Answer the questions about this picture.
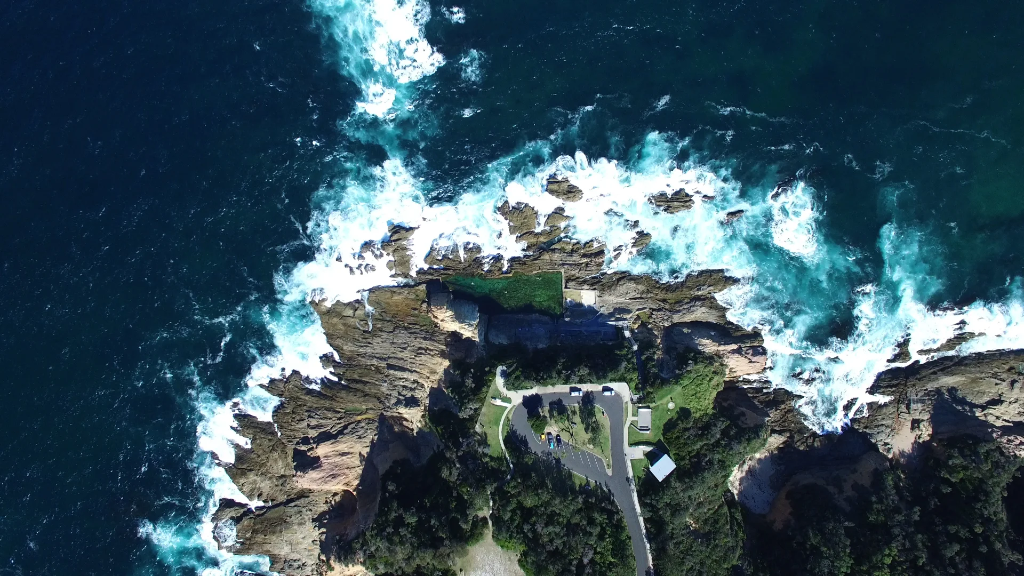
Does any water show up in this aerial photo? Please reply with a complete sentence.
Yes, water can be seen from above here.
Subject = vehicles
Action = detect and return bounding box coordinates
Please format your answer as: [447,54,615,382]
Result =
[540,433,546,442]
[603,390,615,396]
[547,433,554,448]
[570,391,583,396]
[556,435,563,448]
